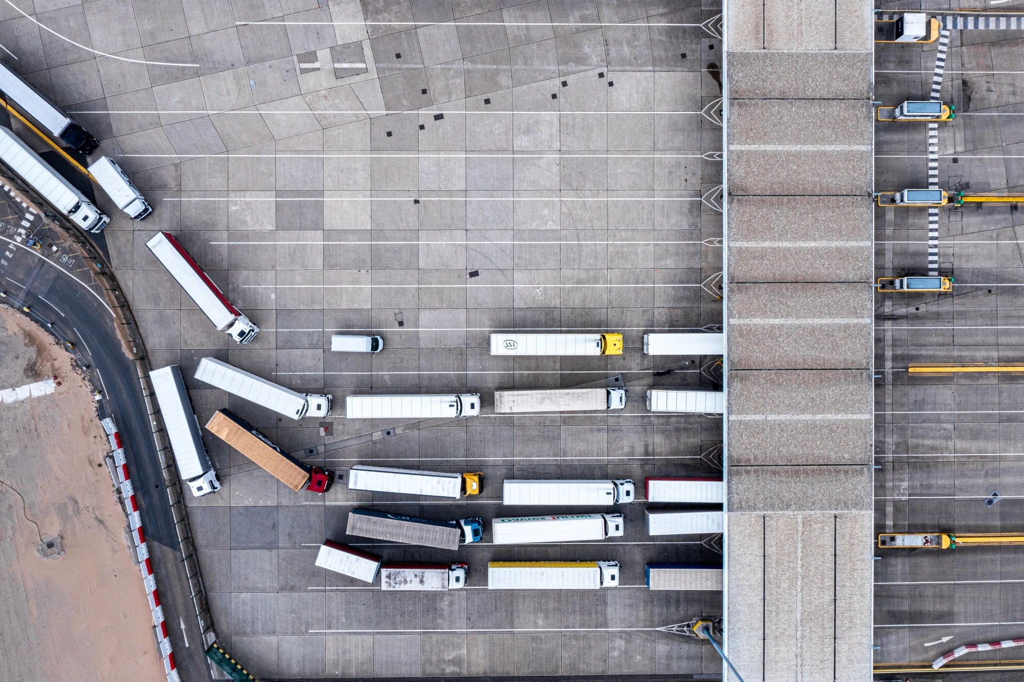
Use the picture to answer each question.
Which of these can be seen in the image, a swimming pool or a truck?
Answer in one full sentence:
There is a truck in the scene.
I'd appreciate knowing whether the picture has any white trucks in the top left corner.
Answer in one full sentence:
Yes, a white truck is visible in the top left corner.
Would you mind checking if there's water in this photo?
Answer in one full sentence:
No, there is no water in the image.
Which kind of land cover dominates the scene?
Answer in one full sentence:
Most of the picture is covered by paved ground.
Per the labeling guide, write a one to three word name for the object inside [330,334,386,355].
vehicle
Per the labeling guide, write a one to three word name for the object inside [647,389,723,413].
truck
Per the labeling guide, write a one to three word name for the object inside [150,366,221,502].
truck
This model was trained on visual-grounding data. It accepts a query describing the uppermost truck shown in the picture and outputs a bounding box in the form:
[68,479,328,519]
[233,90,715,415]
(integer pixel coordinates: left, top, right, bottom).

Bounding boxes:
[0,59,98,155]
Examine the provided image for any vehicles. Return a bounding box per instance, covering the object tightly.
[644,476,723,502]
[150,366,221,502]
[146,232,260,345]
[647,389,723,413]
[488,560,623,589]
[489,333,624,357]
[644,334,723,355]
[330,334,386,355]
[315,539,471,591]
[492,513,627,545]
[645,506,723,536]
[87,155,158,227]
[495,386,630,413]
[645,561,723,590]
[344,392,481,419]
[347,508,485,550]
[194,357,331,420]
[0,59,98,155]
[205,408,335,494]
[502,479,637,505]
[0,125,110,232]
[348,465,485,500]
